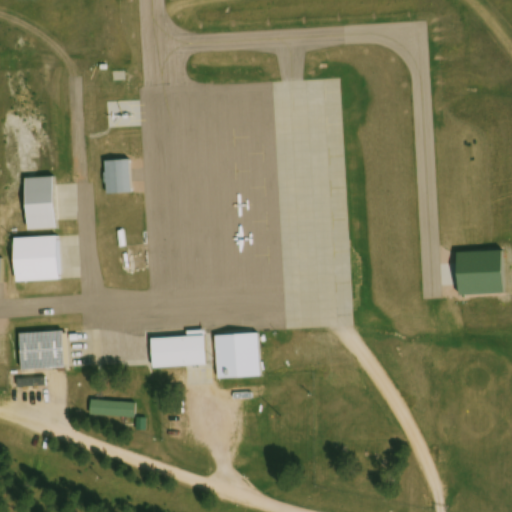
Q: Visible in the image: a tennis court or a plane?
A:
plane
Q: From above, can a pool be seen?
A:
No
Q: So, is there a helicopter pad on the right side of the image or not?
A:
No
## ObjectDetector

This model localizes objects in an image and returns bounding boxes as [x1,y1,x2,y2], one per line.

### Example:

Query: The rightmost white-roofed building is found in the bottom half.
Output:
[214,332,262,380]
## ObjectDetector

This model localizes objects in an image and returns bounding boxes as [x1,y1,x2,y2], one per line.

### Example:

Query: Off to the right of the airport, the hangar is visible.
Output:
[456,249,504,296]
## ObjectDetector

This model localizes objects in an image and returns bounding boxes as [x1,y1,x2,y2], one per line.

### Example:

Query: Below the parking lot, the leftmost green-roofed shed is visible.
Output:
[89,398,136,418]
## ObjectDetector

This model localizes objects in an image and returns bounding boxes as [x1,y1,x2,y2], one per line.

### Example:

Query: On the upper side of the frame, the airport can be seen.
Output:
[141,0,442,329]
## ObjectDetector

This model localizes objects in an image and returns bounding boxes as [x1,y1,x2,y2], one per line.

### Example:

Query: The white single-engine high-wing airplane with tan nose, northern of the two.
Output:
[233,193,250,218]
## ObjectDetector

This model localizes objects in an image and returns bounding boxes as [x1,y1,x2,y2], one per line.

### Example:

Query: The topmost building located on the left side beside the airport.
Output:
[104,159,133,194]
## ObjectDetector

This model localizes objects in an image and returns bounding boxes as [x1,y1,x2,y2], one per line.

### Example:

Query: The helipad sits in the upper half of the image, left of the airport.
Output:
[107,100,144,128]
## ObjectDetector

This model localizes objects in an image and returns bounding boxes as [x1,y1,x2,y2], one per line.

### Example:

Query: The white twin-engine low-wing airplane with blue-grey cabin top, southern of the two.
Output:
[232,224,253,252]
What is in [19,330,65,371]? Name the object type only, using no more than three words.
hangar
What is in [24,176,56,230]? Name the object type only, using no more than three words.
hangar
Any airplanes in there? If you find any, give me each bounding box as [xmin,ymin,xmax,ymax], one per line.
[233,193,250,218]
[232,224,253,252]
